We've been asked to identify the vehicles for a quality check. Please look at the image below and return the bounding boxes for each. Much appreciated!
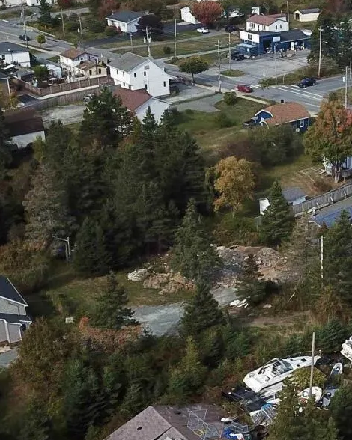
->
[228,50,247,59]
[298,78,316,88]
[19,35,30,41]
[235,84,251,92]
[196,26,210,32]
